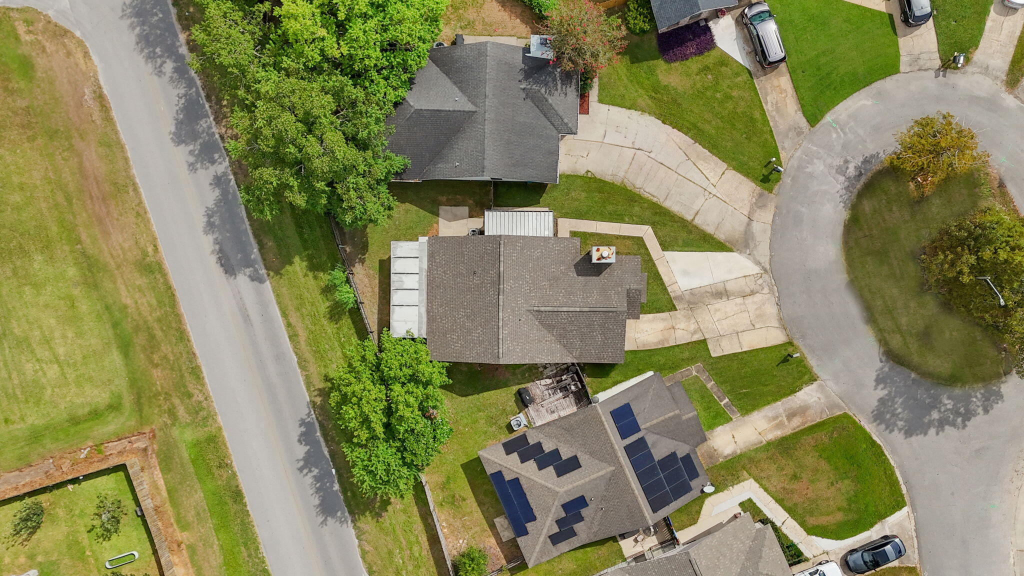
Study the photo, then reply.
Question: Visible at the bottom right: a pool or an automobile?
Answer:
automobile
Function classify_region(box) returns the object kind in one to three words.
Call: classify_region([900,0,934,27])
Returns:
car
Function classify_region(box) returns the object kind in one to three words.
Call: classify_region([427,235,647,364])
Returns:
house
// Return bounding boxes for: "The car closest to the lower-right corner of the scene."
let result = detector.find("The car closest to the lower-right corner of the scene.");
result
[844,538,911,576]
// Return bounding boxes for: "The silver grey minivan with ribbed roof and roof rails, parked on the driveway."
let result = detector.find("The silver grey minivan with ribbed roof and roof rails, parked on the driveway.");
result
[746,2,787,73]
